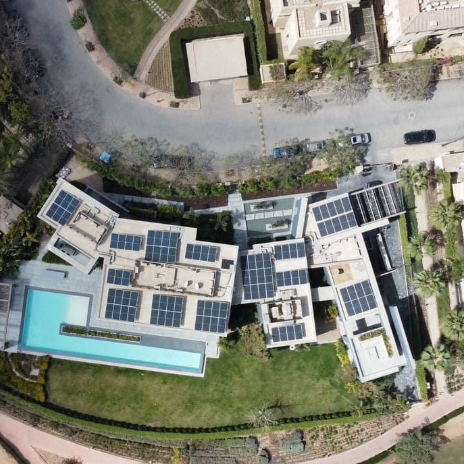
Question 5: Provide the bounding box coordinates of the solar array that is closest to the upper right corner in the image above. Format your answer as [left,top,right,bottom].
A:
[312,199,356,236]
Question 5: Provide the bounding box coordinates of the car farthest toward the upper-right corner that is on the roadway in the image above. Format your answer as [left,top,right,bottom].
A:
[401,129,436,145]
